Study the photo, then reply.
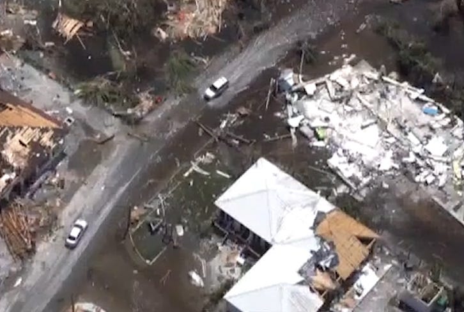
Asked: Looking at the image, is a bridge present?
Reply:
No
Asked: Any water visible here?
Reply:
Yes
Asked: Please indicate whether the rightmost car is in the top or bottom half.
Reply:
top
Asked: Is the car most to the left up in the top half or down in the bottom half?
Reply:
bottom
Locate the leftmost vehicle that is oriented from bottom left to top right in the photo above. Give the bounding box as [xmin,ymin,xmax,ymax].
[62,215,92,252]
